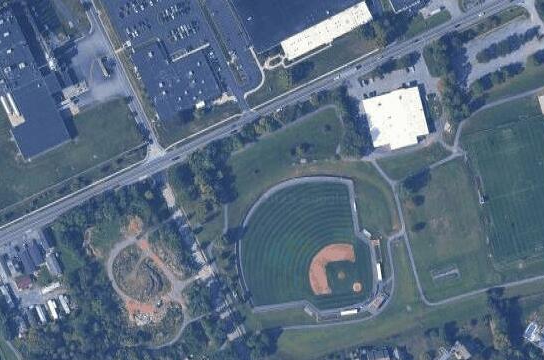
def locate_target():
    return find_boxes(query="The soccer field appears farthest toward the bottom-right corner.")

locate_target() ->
[475,124,544,260]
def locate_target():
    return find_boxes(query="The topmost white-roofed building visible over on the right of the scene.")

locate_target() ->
[281,1,372,60]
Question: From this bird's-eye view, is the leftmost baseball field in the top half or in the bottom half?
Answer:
bottom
